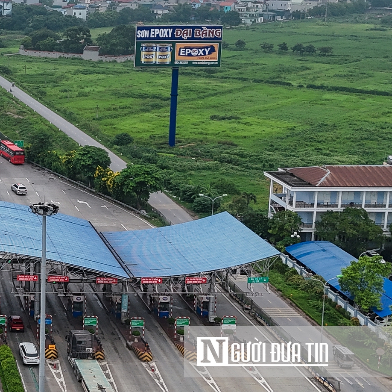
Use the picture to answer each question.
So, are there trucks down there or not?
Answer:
Yes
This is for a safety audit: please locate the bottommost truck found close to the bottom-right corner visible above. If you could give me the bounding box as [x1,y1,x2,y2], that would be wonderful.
[315,331,355,362]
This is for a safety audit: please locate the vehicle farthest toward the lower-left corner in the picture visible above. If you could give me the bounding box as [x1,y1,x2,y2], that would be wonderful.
[16,340,37,362]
